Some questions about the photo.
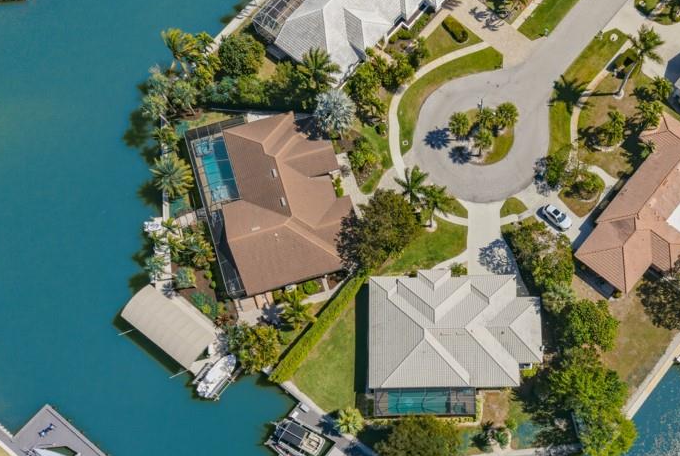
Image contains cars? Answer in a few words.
Yes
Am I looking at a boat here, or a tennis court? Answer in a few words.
boat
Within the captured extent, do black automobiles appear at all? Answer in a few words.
No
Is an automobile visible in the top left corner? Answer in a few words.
No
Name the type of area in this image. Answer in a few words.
residential area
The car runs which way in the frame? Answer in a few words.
on a diagonal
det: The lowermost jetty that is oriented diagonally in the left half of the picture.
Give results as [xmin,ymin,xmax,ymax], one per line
[191,337,224,376]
